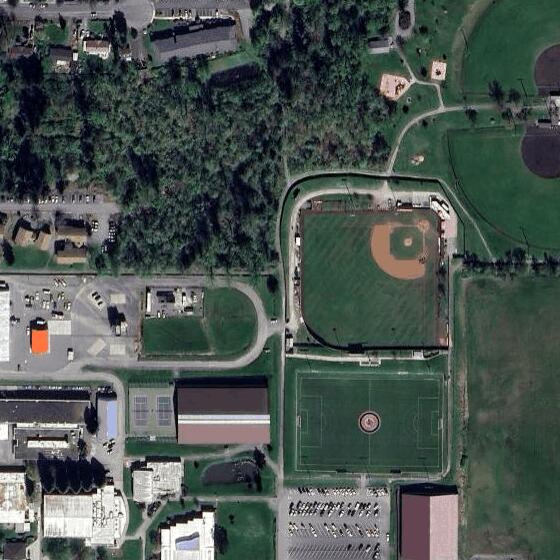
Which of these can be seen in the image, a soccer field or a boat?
soccer field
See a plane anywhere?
No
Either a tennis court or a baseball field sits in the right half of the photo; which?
baseball field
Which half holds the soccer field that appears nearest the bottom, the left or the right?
right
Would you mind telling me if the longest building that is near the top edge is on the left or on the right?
left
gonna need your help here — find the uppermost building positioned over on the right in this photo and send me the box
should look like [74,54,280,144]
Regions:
[368,37,390,52]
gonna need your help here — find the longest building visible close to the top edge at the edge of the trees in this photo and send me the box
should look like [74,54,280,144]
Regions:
[152,23,237,62]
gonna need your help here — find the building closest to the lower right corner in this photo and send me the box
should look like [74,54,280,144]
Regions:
[403,490,458,560]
